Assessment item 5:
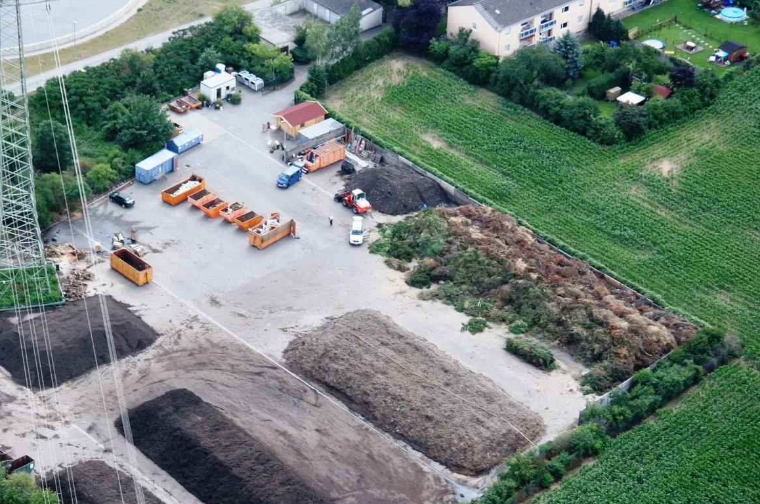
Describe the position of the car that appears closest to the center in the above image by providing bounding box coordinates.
[350,211,371,239]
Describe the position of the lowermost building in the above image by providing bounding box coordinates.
[271,102,327,139]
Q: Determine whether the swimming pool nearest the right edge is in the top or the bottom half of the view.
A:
top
